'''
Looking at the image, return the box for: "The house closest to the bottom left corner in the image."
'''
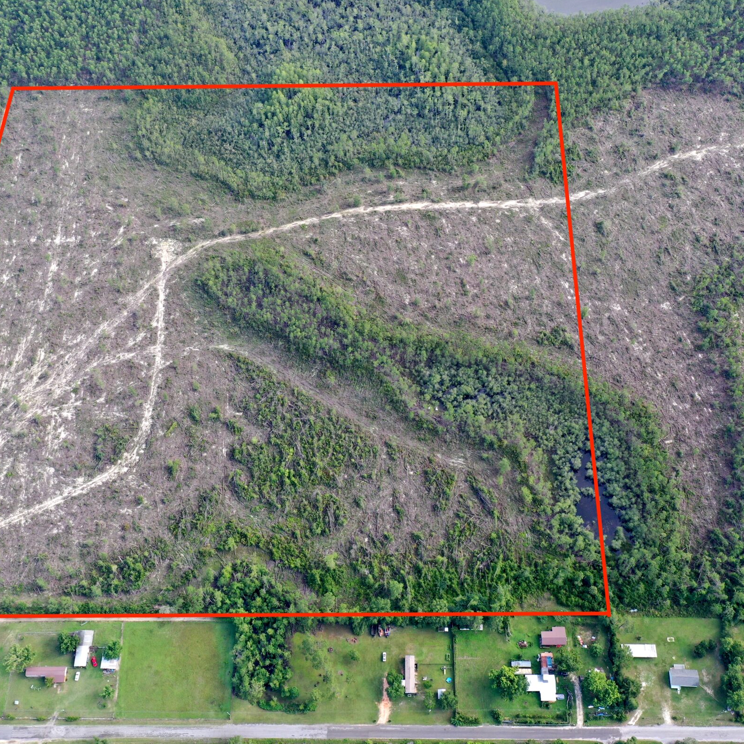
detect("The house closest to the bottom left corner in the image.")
[25,666,68,683]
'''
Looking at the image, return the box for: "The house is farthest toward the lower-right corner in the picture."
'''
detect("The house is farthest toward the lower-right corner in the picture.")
[669,664,701,693]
